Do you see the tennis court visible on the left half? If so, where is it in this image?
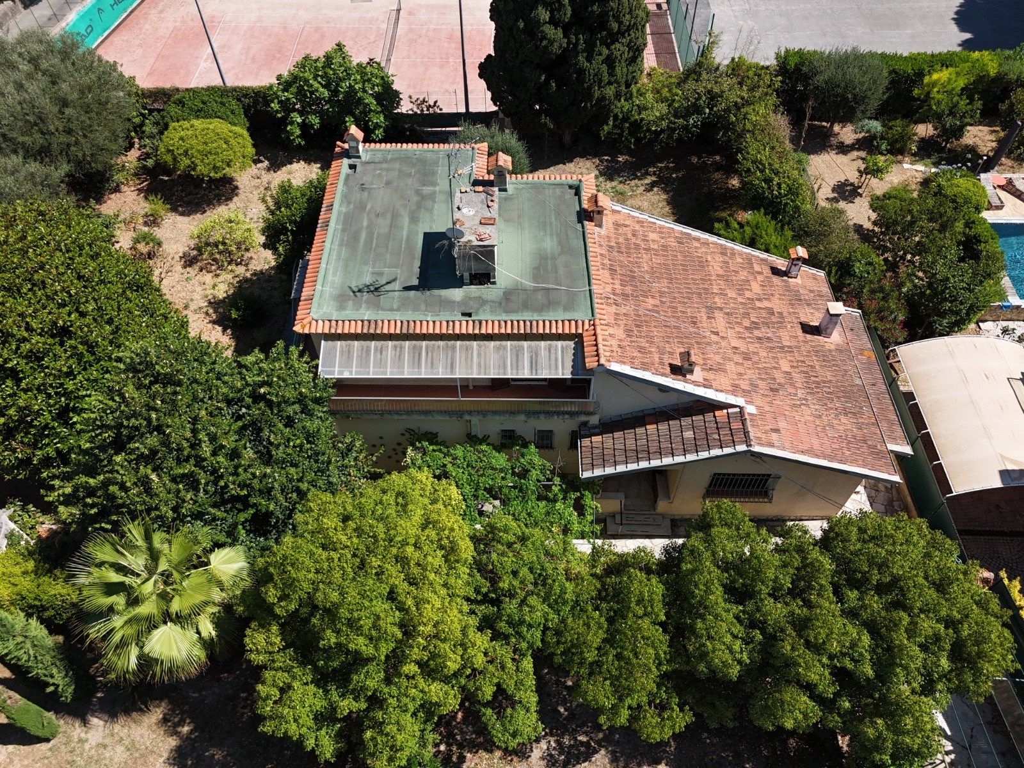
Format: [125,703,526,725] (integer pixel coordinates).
[56,0,677,125]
